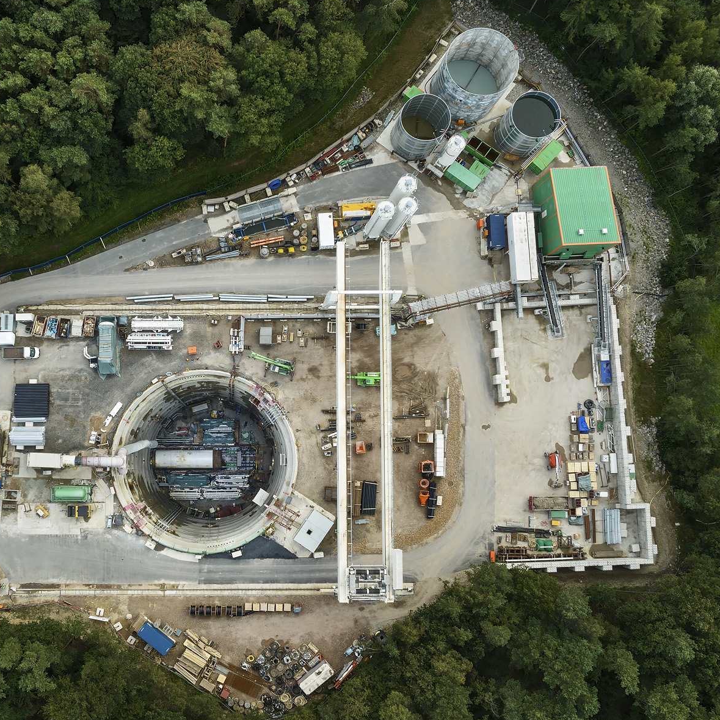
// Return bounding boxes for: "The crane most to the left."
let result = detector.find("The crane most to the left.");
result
[247,349,298,386]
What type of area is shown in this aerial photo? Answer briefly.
industrial area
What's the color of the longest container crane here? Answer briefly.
white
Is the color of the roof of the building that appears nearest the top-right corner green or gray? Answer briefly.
green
